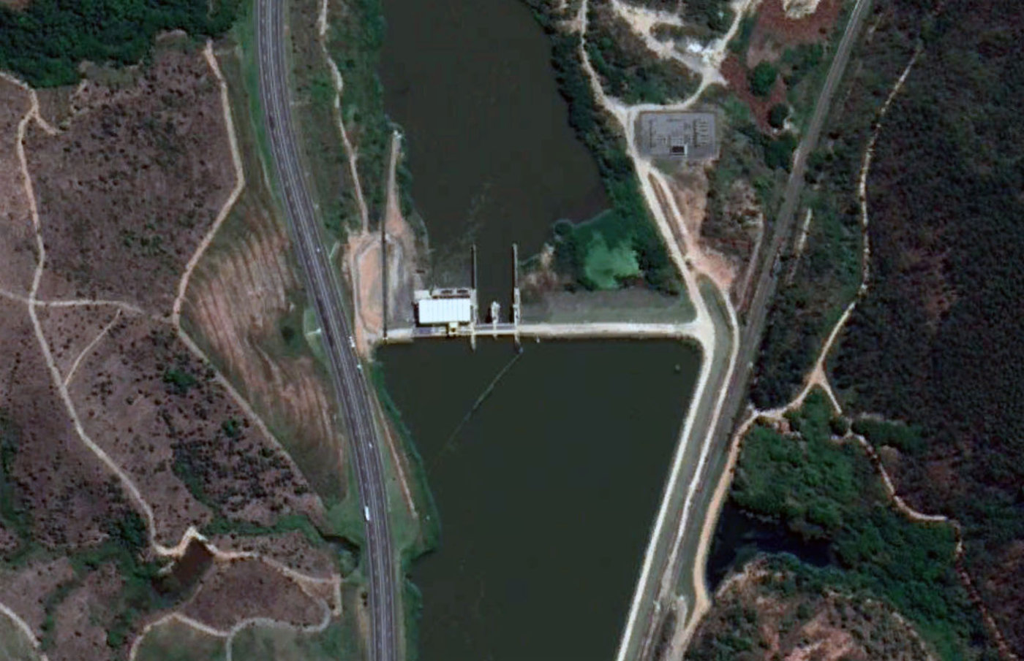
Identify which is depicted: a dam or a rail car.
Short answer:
dam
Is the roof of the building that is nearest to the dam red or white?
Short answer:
white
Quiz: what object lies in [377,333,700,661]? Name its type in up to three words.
pond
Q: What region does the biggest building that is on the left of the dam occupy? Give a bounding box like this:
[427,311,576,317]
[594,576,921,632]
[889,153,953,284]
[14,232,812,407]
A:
[414,289,471,337]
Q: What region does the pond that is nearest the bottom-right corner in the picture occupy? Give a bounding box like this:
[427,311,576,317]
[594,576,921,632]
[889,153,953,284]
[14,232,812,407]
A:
[707,504,839,593]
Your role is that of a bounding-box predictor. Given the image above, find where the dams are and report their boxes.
[471,245,701,350]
